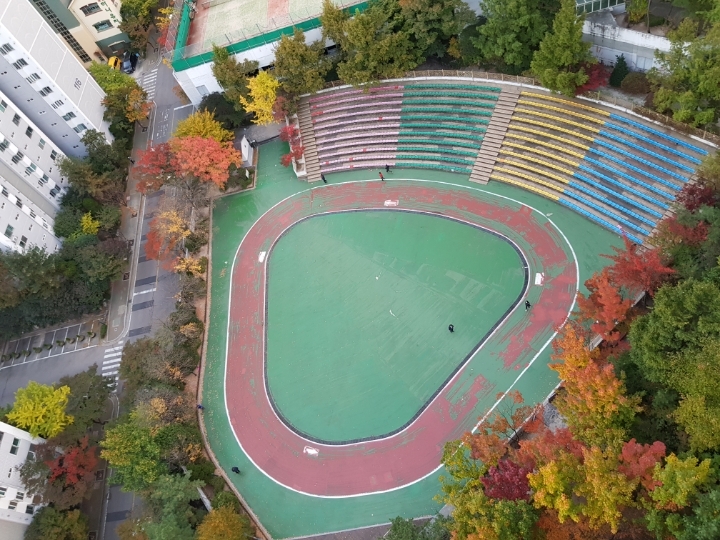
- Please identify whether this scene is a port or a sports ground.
sports ground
